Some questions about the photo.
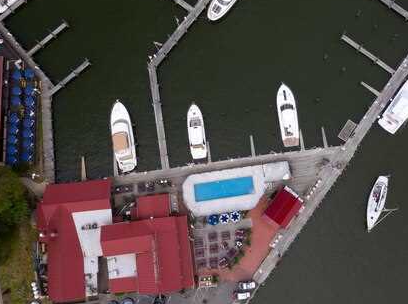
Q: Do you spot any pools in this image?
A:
Yes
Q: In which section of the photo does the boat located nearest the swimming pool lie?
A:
center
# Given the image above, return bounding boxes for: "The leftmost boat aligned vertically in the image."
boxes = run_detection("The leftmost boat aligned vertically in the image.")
[111,98,138,174]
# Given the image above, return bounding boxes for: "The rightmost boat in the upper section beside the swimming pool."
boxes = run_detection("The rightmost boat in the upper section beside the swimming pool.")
[276,83,300,148]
